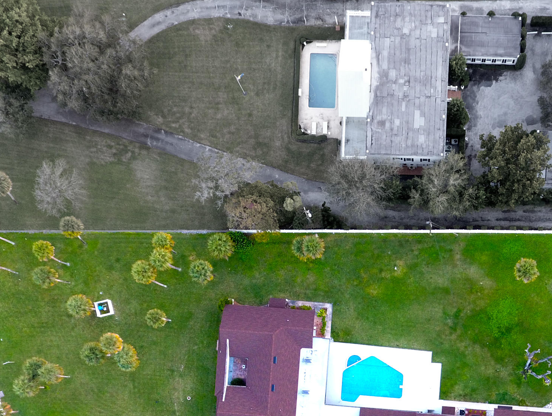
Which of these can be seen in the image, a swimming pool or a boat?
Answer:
swimming pool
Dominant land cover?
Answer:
grass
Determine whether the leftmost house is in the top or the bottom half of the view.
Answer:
bottom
